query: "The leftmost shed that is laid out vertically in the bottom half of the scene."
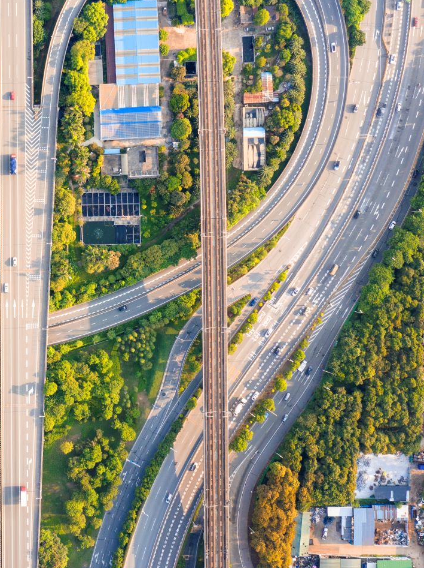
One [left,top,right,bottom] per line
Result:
[289,509,311,556]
